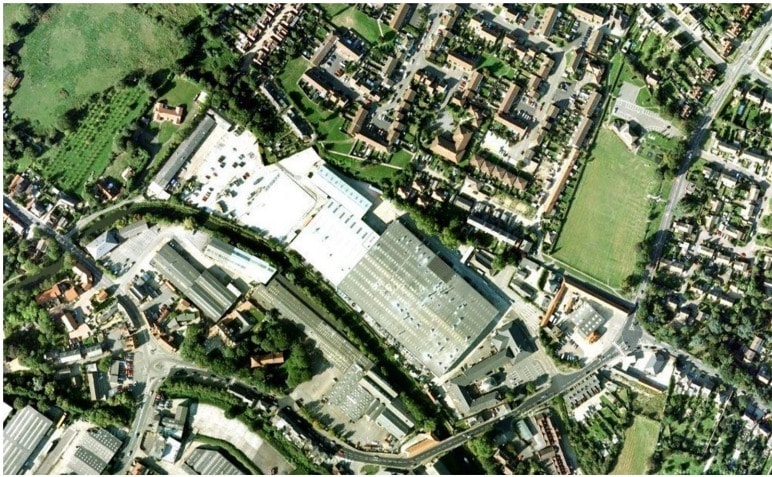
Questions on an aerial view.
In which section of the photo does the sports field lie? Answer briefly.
right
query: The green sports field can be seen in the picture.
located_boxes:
[550,123,664,290]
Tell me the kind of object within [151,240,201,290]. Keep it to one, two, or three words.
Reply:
building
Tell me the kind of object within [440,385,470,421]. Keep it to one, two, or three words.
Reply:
building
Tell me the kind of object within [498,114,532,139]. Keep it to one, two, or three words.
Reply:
house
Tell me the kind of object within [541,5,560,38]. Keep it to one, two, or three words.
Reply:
house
